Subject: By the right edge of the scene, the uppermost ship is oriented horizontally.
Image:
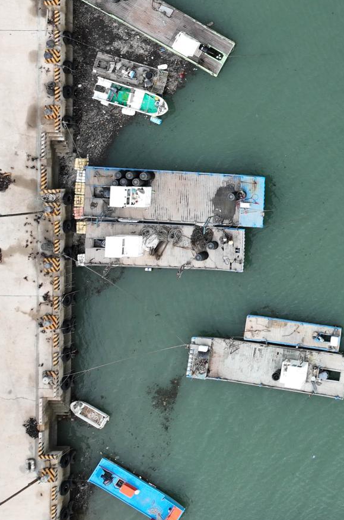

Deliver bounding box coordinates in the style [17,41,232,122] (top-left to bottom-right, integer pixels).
[244,315,343,352]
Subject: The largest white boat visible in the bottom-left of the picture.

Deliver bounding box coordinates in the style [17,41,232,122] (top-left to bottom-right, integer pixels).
[69,400,110,428]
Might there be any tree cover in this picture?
No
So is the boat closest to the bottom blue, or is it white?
blue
